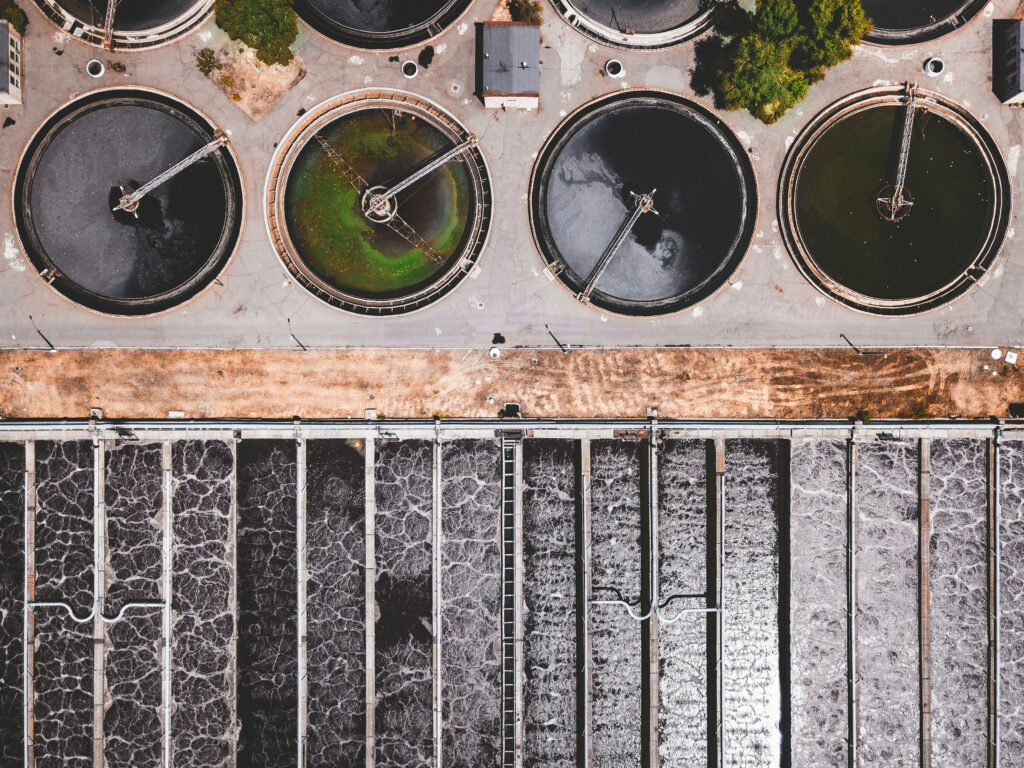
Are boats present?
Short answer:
No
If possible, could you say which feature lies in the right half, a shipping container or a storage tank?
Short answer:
storage tank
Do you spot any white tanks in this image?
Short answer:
Yes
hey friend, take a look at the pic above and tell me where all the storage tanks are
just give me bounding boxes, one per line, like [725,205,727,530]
[846,0,990,49]
[526,85,760,319]
[291,0,477,52]
[546,0,736,52]
[11,85,245,319]
[263,86,494,317]
[777,83,1013,319]
[28,0,219,53]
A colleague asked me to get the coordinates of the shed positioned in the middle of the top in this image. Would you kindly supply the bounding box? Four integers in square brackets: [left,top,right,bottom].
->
[483,23,540,107]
